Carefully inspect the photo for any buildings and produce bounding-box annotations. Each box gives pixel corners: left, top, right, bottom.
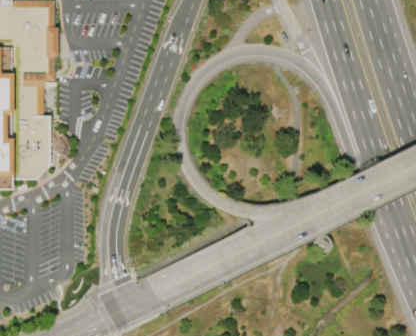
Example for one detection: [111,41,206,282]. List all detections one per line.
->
[16,116,52,180]
[0,47,16,190]
[0,0,59,115]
